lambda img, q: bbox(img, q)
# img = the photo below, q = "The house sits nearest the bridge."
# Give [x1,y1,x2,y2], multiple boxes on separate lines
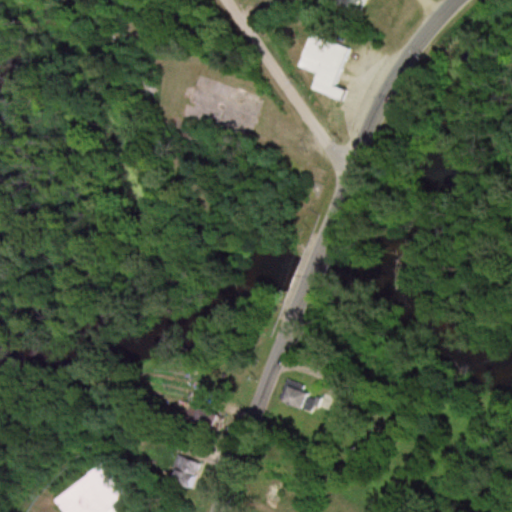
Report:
[280,380,320,416]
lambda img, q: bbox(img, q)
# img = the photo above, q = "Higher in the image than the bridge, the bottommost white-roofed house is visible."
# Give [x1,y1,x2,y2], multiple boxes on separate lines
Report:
[300,36,350,100]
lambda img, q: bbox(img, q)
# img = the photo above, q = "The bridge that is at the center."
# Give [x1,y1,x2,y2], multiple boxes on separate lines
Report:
[278,234,329,328]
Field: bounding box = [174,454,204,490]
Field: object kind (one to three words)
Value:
house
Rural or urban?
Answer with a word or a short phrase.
rural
